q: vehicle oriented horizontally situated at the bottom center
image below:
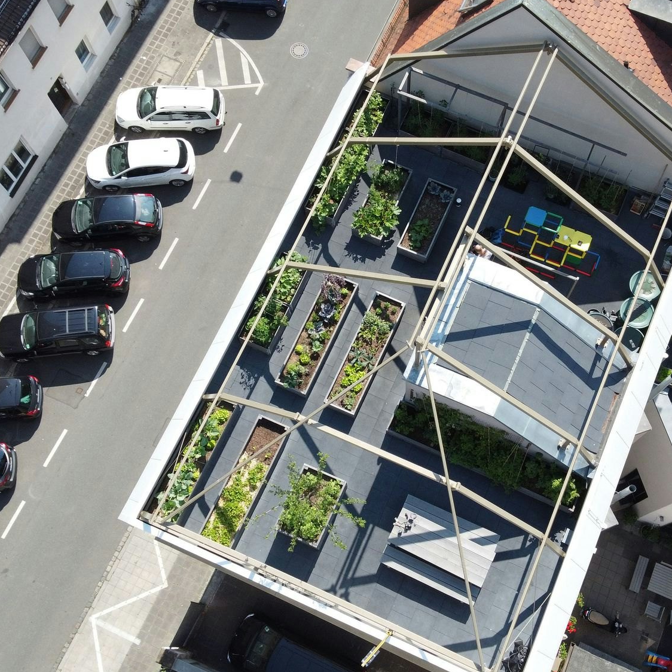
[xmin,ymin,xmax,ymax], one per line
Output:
[224,610,374,672]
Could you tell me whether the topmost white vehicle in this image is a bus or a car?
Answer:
car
